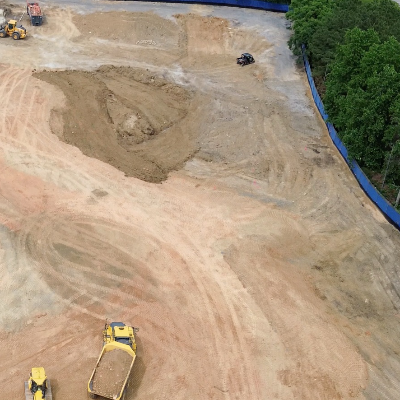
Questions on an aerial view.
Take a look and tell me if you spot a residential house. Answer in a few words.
No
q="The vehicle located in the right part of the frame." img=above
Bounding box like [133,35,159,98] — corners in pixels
[239,51,256,65]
